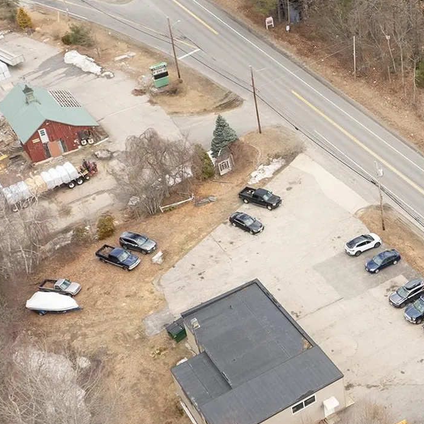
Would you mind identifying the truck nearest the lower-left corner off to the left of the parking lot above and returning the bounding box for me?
[38,271,84,295]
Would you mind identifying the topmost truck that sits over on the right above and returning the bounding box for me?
[237,185,283,210]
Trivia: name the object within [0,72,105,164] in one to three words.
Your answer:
barn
